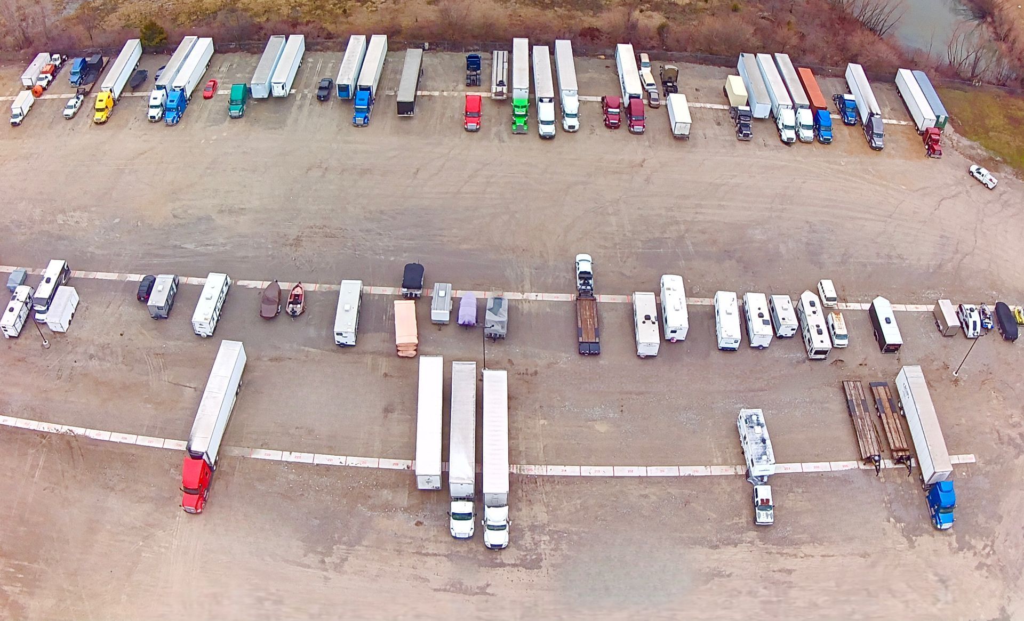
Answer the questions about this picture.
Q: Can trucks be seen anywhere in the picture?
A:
Yes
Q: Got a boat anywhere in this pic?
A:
Yes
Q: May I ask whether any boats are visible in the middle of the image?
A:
Yes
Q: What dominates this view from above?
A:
paved ground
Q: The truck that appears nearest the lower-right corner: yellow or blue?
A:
blue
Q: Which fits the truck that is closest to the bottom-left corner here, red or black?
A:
red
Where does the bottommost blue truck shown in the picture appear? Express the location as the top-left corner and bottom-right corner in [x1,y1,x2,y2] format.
[921,470,959,530]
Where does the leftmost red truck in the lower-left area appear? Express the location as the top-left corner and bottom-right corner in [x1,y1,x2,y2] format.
[179,451,218,513]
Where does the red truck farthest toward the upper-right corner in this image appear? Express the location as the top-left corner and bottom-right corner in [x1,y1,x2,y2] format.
[916,128,943,157]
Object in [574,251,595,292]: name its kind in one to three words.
truck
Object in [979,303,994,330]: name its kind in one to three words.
boat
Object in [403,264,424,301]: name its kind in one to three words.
boat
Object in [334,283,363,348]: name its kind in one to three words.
vehicle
